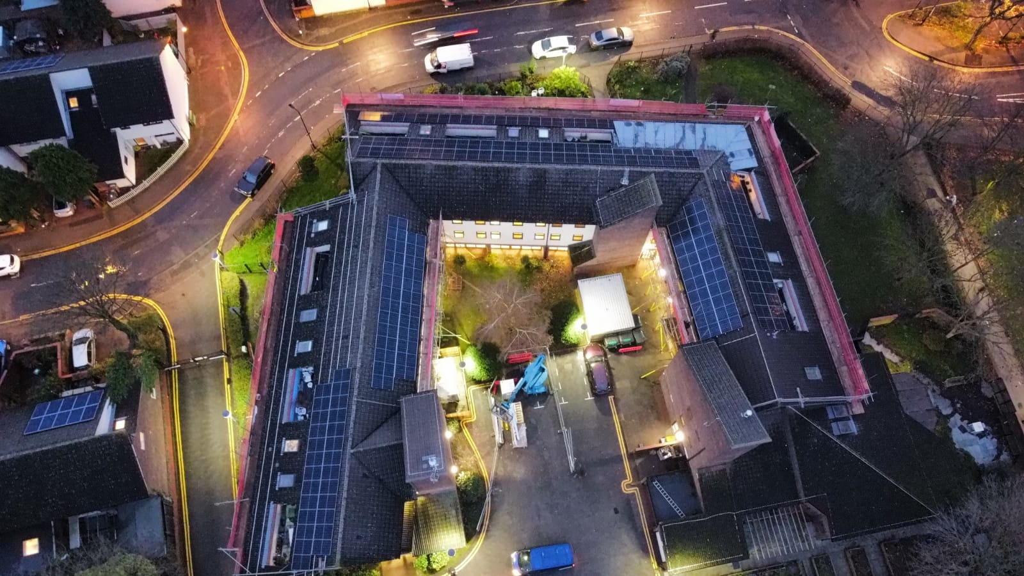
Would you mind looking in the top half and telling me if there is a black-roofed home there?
Yes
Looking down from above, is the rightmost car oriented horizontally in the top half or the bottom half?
top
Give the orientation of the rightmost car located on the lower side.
vertically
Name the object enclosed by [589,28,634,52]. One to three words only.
car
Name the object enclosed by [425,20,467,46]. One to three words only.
car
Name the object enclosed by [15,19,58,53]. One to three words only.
shed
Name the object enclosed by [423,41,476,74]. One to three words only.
van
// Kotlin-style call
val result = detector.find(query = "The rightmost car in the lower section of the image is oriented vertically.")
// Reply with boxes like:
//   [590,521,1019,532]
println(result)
[583,344,611,399]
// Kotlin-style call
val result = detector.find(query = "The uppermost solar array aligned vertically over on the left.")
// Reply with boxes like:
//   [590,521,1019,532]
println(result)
[372,215,424,390]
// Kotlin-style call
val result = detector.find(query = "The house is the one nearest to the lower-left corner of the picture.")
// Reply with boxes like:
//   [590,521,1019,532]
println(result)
[0,379,176,576]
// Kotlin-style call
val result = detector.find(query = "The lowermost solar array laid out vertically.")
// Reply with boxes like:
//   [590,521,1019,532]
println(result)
[292,366,353,571]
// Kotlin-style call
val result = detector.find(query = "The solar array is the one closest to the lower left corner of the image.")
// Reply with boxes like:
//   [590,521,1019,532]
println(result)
[25,392,104,435]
